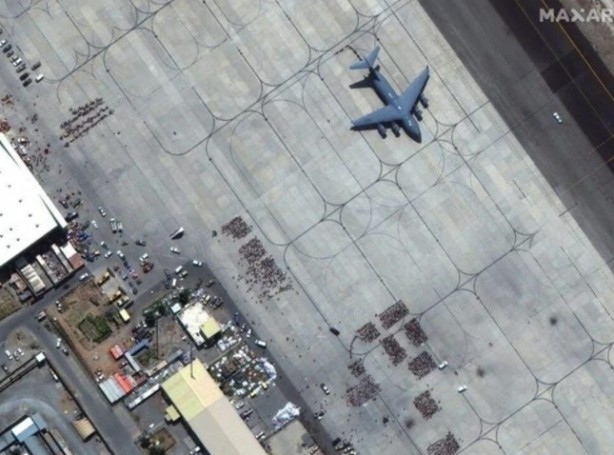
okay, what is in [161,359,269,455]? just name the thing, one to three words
hangar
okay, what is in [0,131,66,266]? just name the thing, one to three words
hangar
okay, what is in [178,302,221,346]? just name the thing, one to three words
building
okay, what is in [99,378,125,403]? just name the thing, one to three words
building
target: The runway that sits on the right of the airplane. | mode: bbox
[490,0,614,173]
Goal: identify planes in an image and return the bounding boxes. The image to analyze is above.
[347,46,431,142]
